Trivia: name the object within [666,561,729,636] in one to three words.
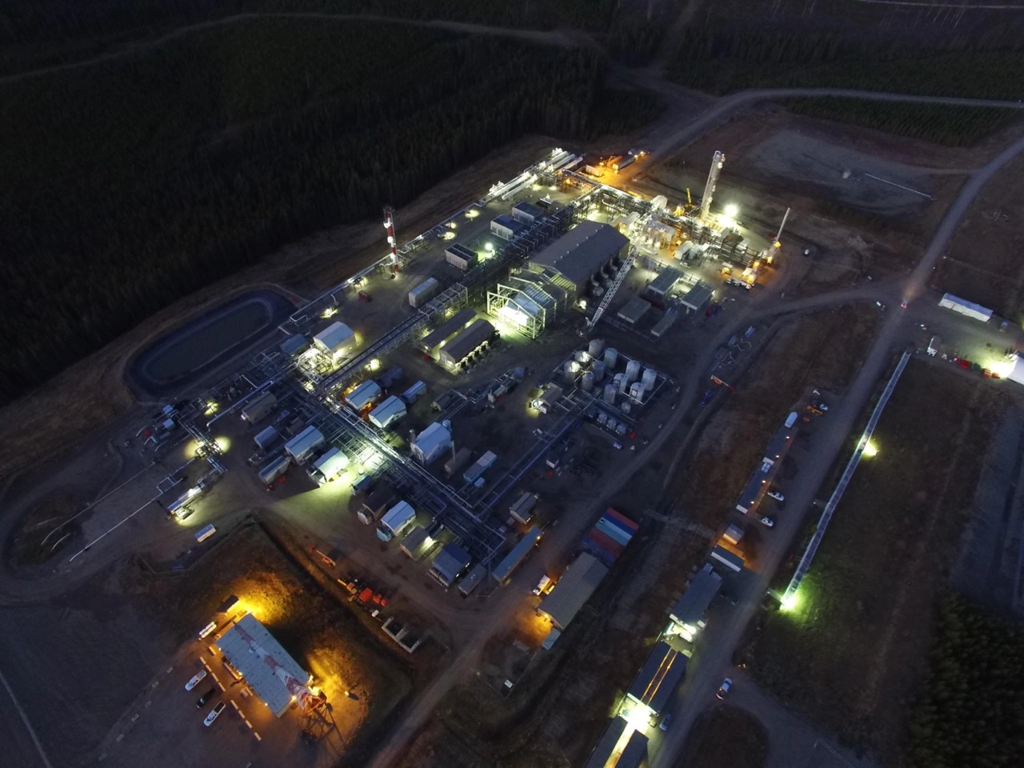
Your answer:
building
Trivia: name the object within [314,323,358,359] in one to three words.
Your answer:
shed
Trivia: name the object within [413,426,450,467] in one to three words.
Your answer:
building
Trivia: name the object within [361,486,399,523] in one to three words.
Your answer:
shed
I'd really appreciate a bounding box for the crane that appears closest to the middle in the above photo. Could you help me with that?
[572,244,639,334]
